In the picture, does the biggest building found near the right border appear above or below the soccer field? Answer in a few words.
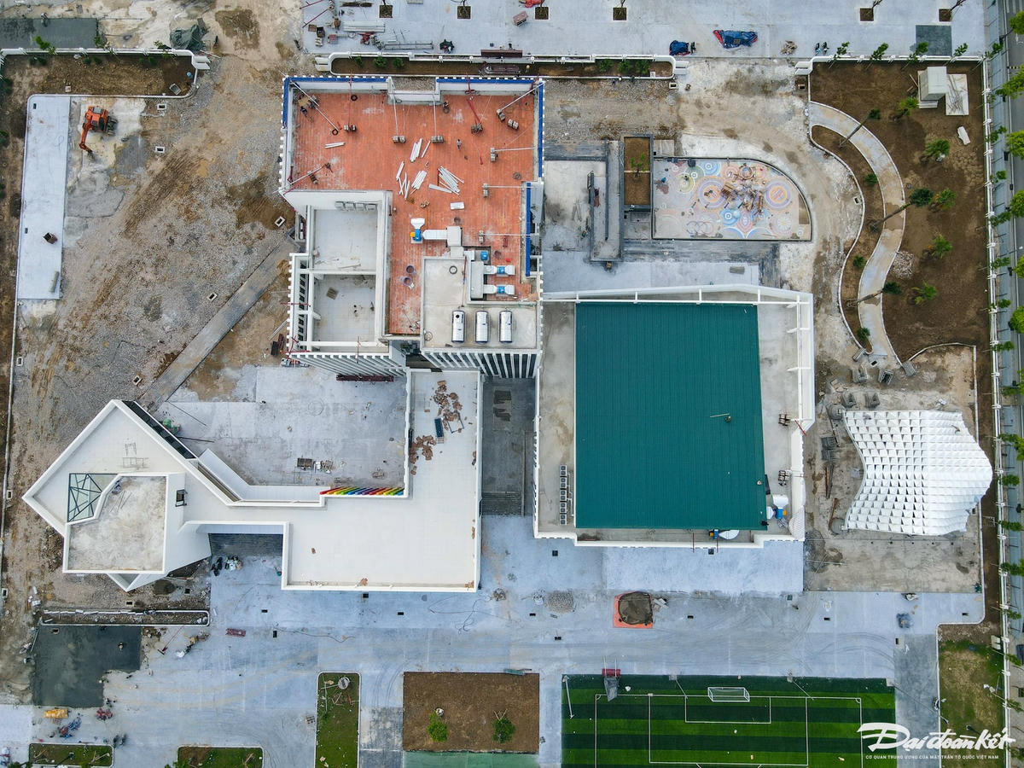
above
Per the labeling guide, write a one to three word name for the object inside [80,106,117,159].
work vehicle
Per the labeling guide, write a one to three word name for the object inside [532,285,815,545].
building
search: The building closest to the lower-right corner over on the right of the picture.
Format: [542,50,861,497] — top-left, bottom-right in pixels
[838,409,992,535]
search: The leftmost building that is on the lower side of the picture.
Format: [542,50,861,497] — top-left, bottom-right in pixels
[24,371,485,590]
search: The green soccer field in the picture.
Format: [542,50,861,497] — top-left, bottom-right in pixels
[561,675,898,768]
